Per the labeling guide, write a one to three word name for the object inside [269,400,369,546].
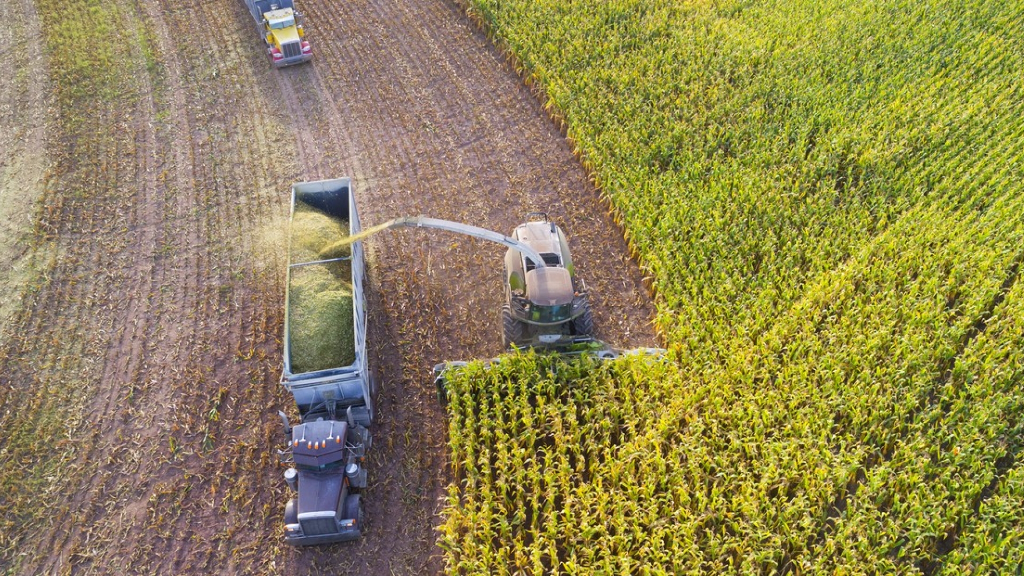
truck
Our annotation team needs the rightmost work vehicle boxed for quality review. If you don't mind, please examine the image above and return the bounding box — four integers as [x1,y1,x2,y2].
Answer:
[386,213,673,410]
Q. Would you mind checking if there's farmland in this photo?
Yes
